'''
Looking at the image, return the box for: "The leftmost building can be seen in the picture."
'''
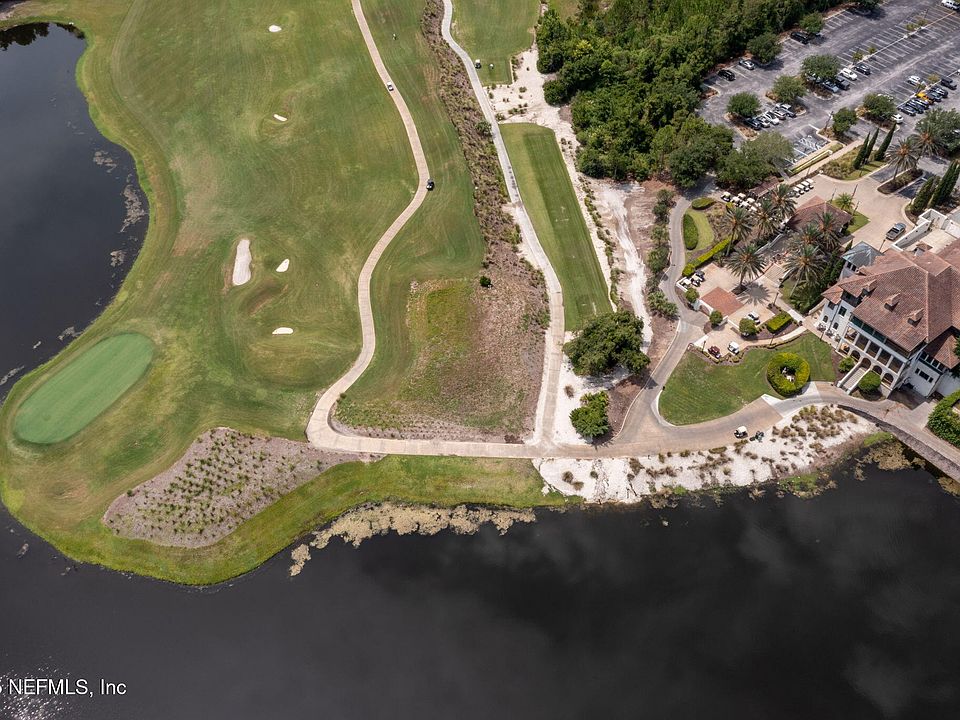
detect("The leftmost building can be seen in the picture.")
[697,286,744,328]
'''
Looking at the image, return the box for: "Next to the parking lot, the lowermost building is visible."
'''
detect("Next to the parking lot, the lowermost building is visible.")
[818,241,960,398]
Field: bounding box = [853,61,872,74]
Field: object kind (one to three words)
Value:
vehicle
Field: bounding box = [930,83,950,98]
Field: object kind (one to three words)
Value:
car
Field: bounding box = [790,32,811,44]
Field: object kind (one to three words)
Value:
vehicle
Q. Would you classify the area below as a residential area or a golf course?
golf course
